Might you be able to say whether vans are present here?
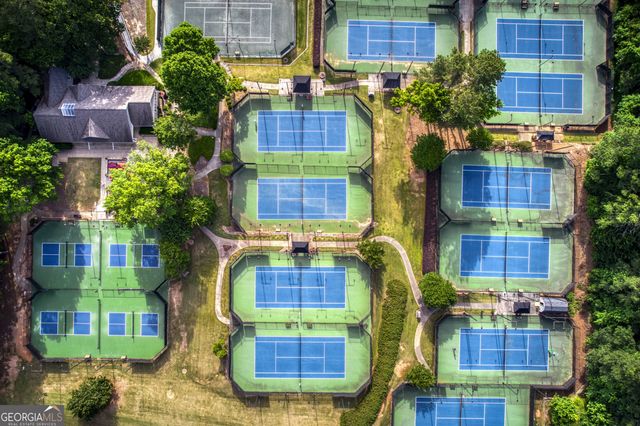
No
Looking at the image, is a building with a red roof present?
No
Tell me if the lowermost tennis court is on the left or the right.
right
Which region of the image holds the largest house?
top left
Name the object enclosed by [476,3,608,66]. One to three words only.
tennis court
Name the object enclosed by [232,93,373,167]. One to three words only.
tennis court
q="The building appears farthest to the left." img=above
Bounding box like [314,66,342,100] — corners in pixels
[33,66,159,152]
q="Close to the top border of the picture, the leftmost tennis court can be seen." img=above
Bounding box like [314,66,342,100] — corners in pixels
[161,0,296,57]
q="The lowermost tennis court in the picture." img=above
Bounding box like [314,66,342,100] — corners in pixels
[393,385,531,426]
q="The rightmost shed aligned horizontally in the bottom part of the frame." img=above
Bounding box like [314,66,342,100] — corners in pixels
[534,297,571,312]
